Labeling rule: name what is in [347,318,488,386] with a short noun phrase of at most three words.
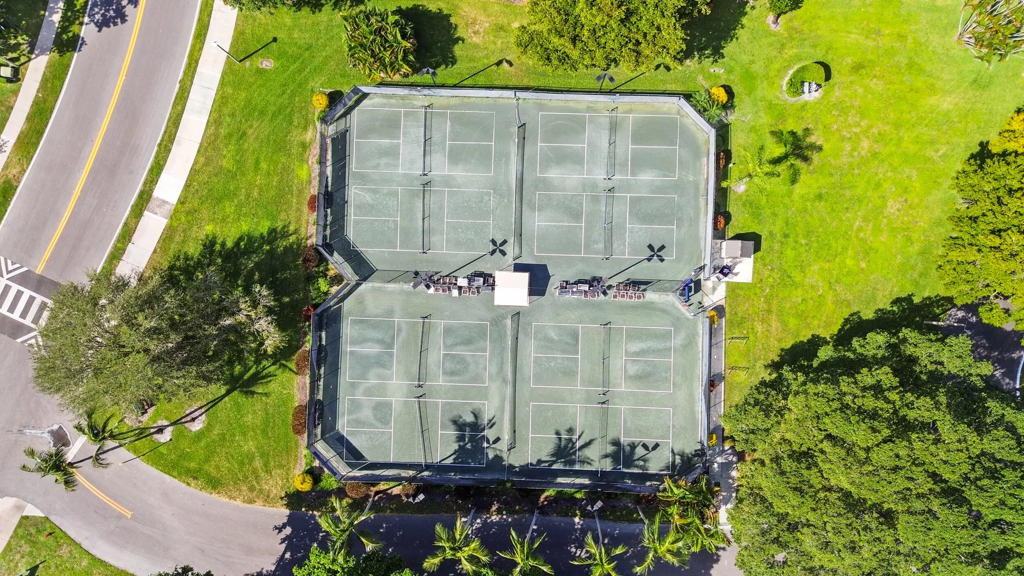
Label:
sports court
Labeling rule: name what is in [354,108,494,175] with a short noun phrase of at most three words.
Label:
sports court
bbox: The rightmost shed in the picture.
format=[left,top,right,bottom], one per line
[719,239,755,260]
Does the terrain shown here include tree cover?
Yes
